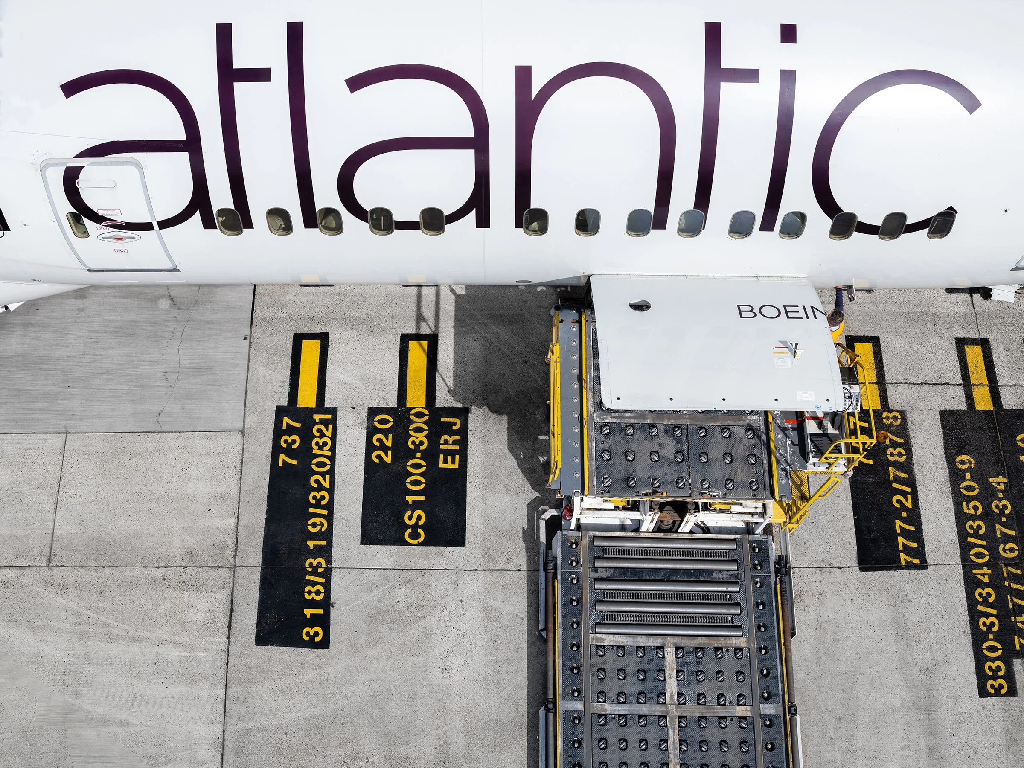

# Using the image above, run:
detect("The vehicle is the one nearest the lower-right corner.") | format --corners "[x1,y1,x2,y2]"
[539,288,889,768]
